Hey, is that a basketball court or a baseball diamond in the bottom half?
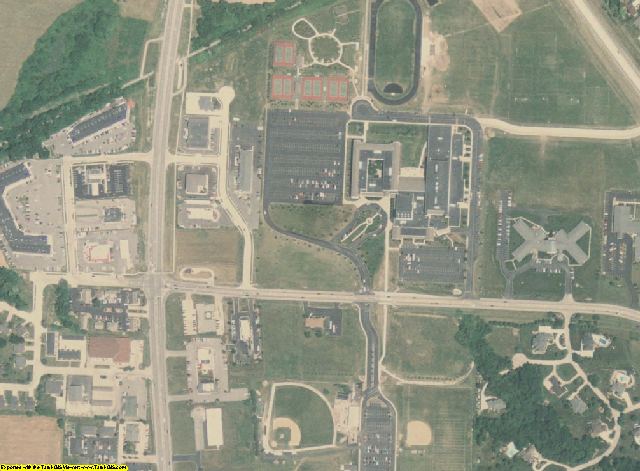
baseball diamond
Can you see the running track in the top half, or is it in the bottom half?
top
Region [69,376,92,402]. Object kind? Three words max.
building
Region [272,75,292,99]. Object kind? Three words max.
tennis court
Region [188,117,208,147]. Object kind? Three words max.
building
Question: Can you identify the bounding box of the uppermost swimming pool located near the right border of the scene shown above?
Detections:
[592,334,611,347]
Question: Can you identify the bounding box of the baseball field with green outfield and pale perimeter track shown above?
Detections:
[264,382,337,452]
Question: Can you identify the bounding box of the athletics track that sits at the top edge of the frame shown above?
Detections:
[369,0,421,104]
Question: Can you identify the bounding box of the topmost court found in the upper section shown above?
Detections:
[272,41,295,66]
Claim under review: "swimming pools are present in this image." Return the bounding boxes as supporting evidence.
[592,334,611,347]
[616,372,631,385]
[503,441,519,459]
